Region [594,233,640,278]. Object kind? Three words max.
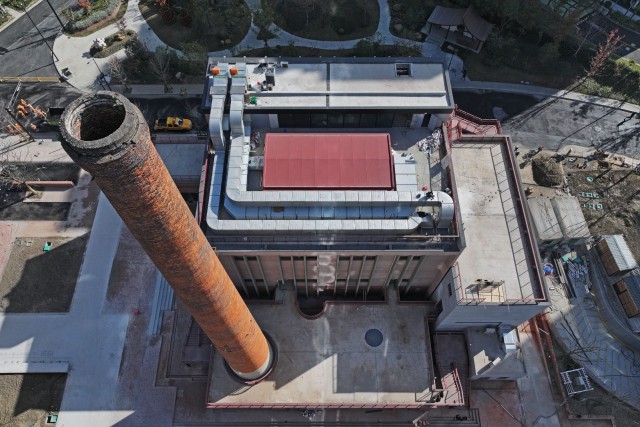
building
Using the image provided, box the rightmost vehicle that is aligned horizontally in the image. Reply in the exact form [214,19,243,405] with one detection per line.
[152,116,192,133]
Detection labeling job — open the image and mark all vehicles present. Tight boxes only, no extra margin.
[152,116,192,133]
[44,109,65,128]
